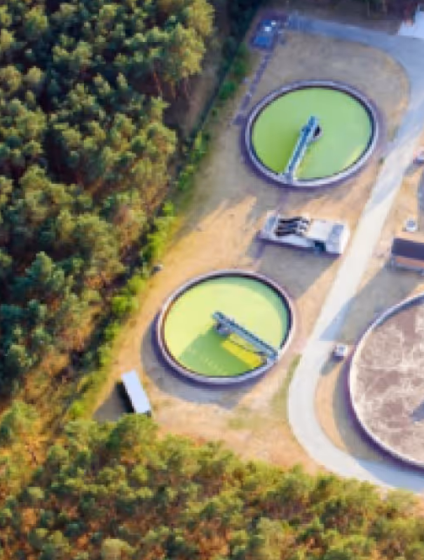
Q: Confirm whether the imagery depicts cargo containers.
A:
Yes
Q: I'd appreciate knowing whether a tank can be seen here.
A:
Yes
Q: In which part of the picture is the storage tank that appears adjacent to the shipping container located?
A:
center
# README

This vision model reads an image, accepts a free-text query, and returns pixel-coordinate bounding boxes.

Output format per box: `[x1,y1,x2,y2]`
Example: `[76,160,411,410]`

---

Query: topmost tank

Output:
[239,81,385,195]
